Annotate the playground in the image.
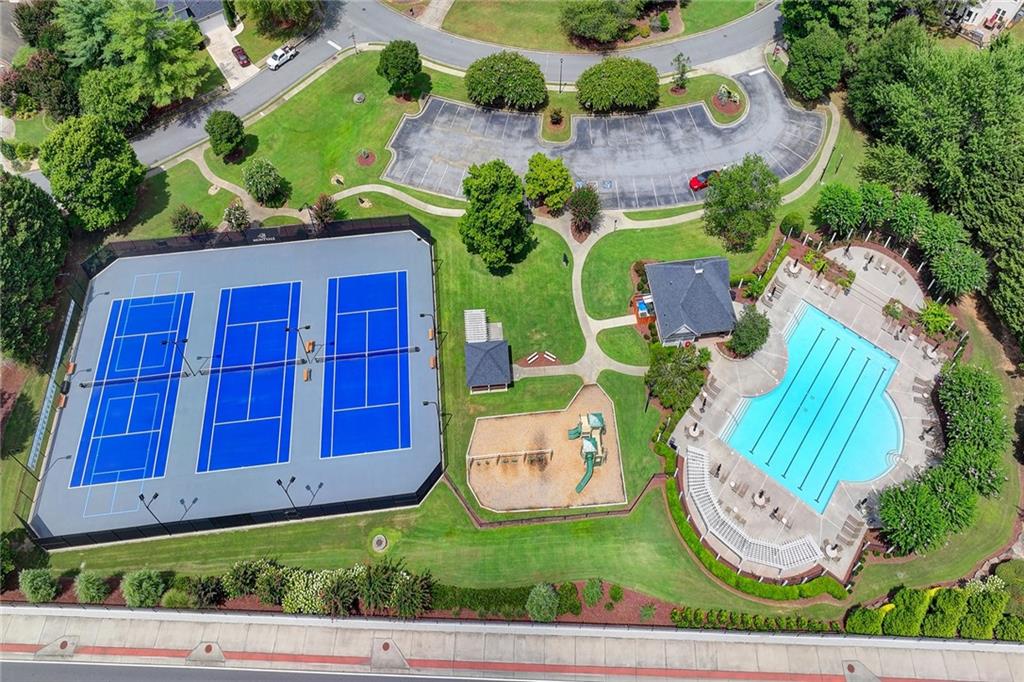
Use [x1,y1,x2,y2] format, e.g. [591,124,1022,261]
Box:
[466,382,628,513]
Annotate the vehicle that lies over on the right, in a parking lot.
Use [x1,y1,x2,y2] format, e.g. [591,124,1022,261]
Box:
[690,170,721,189]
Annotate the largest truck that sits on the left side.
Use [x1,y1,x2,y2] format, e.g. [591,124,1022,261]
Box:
[266,45,300,69]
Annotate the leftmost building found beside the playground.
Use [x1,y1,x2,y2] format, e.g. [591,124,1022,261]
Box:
[465,339,511,398]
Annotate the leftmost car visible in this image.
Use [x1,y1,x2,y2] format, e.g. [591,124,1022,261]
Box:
[232,46,251,67]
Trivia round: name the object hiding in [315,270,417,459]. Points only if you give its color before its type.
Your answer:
blue tennis court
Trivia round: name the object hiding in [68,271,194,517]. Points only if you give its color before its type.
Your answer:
blue tennis court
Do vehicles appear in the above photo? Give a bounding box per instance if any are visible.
[690,170,721,189]
[232,46,251,67]
[266,45,300,69]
